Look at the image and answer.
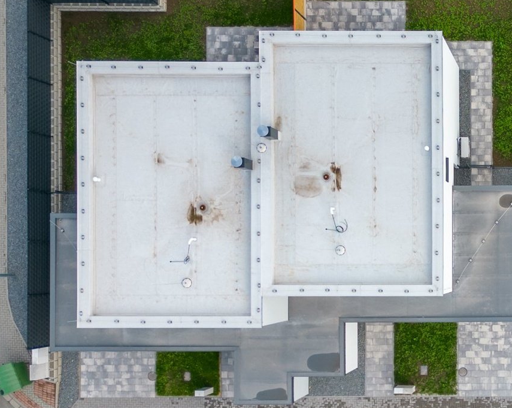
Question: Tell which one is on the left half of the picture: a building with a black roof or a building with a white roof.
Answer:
building with a white roof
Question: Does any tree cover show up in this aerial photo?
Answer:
No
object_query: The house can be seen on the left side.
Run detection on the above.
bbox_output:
[49,61,309,405]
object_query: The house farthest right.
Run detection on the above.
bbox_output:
[252,31,512,377]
